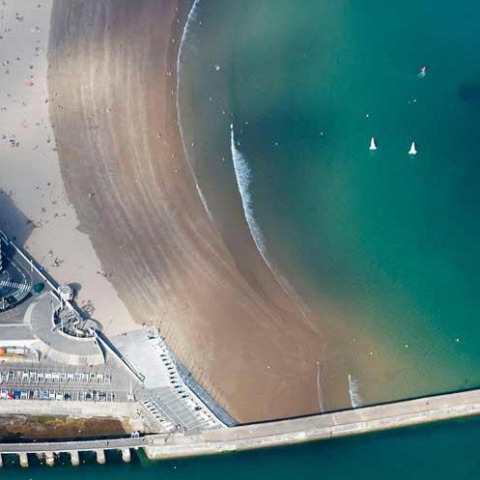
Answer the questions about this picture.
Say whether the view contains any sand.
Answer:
Yes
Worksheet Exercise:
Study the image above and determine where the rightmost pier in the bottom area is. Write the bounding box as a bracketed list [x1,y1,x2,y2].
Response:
[143,388,480,460]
